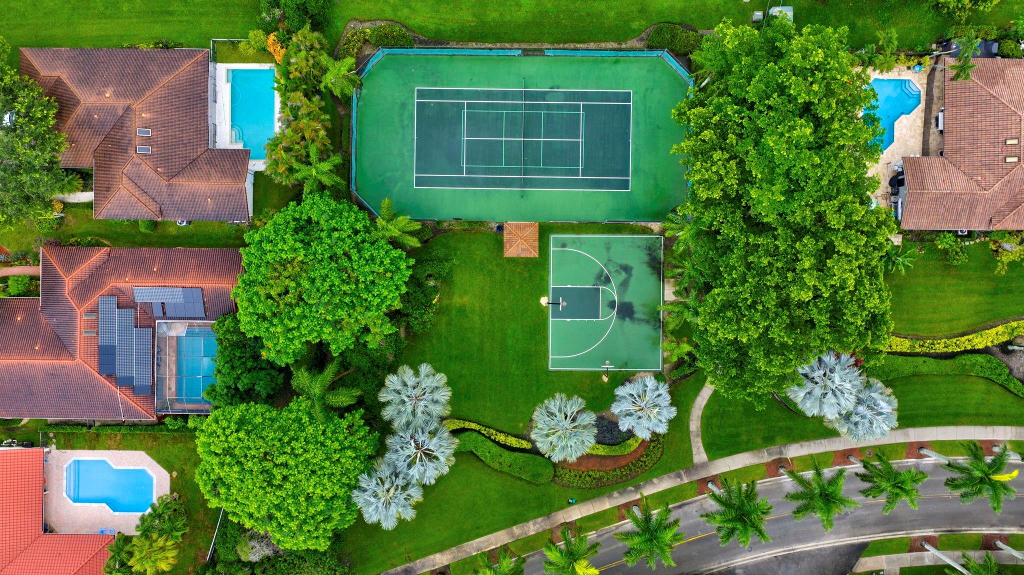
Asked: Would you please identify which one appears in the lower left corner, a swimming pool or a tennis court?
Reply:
swimming pool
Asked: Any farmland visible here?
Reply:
No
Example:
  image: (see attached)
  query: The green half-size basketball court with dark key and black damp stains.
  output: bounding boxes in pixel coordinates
[549,234,665,373]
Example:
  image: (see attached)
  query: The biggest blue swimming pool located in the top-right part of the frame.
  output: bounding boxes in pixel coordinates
[858,76,923,153]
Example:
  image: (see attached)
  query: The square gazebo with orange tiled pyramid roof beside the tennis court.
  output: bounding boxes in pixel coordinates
[503,222,539,258]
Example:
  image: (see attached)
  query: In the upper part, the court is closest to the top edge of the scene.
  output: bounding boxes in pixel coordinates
[355,56,689,222]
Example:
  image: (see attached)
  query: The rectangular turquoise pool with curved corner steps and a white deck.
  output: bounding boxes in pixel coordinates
[224,67,280,161]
